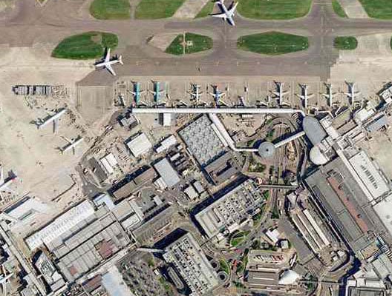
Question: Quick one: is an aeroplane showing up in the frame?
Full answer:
Yes, there's an aeroplane down there.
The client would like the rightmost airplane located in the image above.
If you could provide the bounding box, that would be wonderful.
[344,82,362,106]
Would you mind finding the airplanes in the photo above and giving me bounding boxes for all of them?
[149,82,166,104]
[271,83,289,105]
[0,275,13,296]
[213,0,240,26]
[0,170,19,197]
[129,83,145,104]
[35,107,68,132]
[209,84,225,106]
[322,83,339,106]
[59,138,83,156]
[344,82,362,106]
[95,50,125,75]
[298,85,315,108]
[190,84,205,107]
